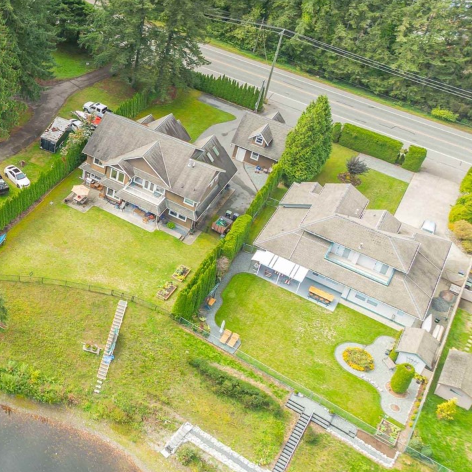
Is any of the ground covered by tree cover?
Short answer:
Yes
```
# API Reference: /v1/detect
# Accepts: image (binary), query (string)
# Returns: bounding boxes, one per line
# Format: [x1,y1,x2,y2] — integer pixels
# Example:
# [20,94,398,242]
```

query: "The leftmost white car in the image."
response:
[0,165,34,190]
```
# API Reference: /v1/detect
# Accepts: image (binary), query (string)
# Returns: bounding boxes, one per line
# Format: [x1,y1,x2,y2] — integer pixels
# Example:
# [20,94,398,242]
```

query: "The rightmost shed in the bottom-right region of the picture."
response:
[436,349,472,405]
